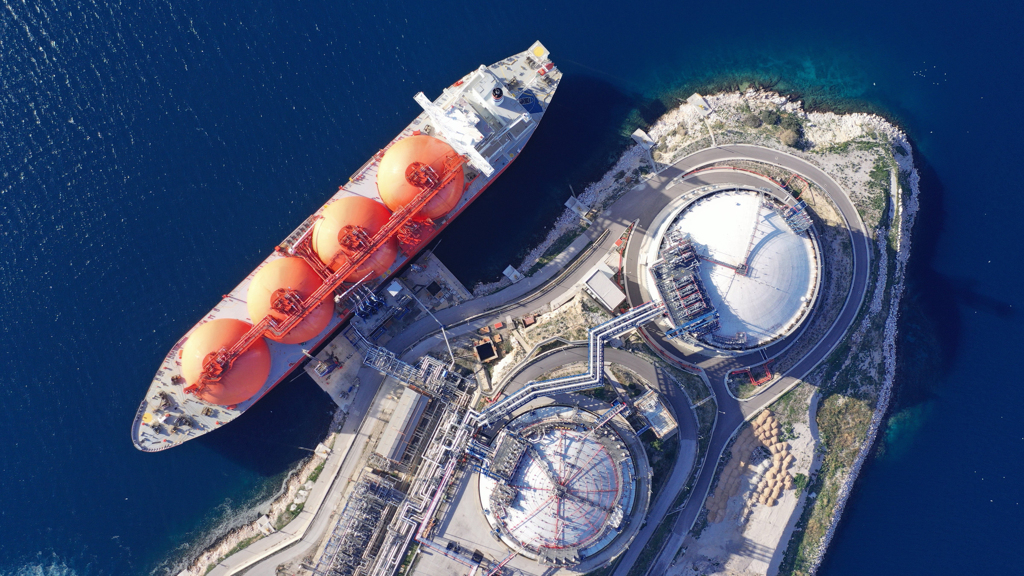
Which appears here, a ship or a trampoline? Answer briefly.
ship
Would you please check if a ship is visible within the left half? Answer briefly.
Yes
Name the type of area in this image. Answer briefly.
industrial area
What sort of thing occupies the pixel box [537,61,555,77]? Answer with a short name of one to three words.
boat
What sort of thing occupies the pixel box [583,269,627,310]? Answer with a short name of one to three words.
building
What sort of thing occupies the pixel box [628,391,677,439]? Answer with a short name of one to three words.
building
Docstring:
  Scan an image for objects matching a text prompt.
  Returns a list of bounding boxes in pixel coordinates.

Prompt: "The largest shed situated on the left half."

[376,385,431,462]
